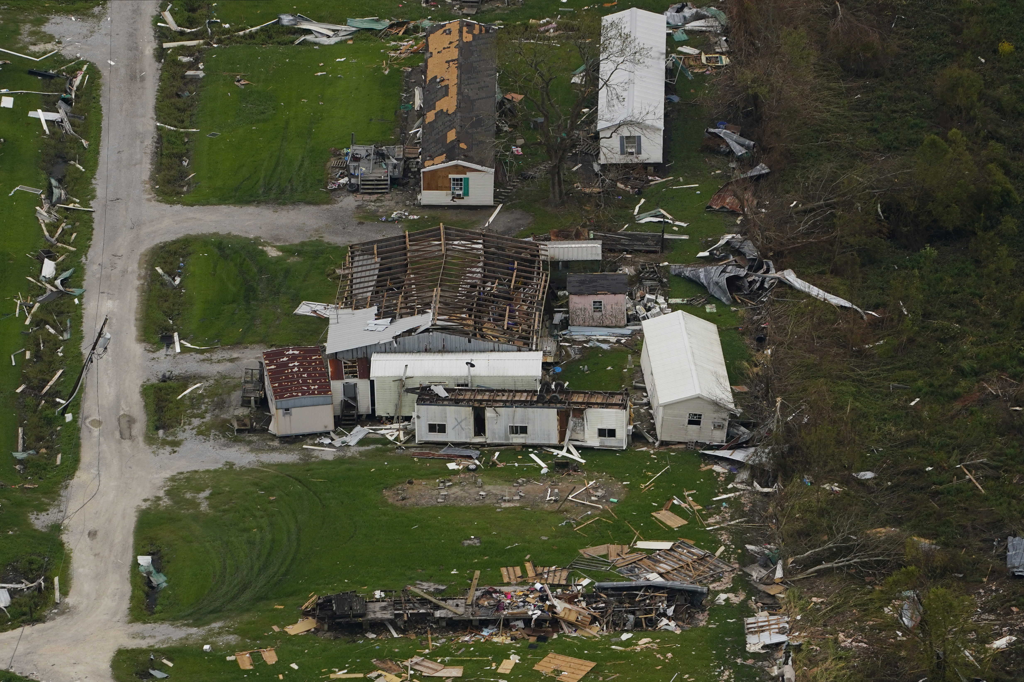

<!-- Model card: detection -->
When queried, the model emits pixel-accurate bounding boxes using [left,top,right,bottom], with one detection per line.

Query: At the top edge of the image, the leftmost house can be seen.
[420,18,497,206]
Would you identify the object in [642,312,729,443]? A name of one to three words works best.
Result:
house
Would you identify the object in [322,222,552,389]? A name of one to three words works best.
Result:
barn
